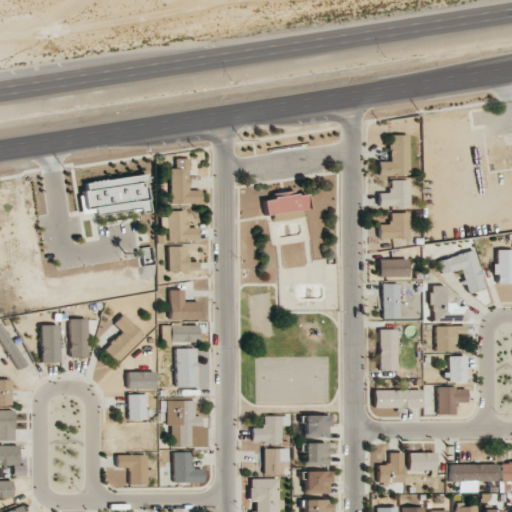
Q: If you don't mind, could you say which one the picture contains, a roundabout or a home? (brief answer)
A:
home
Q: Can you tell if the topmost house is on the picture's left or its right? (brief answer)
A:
right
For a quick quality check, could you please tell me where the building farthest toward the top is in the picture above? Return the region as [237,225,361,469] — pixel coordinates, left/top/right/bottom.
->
[376,134,412,176]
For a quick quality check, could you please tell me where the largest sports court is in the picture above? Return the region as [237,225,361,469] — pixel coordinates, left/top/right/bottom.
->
[256,357,329,405]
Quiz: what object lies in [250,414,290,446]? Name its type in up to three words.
house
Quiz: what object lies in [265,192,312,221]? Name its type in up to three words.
building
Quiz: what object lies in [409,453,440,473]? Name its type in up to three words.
house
